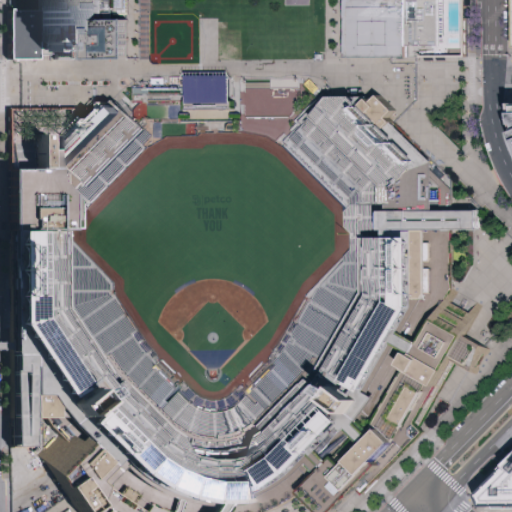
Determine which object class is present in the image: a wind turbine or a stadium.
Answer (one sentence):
Visible in the photo is a stadium.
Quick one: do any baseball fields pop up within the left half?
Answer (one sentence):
Yes, looking within the left half, one can make out a baseball field.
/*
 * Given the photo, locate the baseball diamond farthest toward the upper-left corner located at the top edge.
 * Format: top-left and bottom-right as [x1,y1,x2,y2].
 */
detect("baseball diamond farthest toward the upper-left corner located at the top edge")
[151,12,200,64]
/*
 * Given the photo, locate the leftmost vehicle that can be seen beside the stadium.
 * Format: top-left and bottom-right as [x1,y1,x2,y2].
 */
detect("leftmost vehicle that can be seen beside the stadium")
[304,80,321,96]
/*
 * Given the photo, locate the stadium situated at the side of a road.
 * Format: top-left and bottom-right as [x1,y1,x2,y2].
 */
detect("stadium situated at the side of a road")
[30,96,431,503]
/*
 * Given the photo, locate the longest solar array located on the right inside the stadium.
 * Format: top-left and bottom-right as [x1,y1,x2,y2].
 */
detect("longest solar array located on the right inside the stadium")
[338,304,393,378]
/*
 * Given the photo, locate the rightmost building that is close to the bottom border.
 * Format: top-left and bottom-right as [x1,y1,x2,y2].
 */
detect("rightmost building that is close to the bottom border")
[470,452,512,506]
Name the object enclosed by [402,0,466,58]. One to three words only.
building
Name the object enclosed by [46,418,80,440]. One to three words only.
shed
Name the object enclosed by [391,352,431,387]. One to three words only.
house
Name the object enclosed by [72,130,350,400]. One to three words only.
baseball field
